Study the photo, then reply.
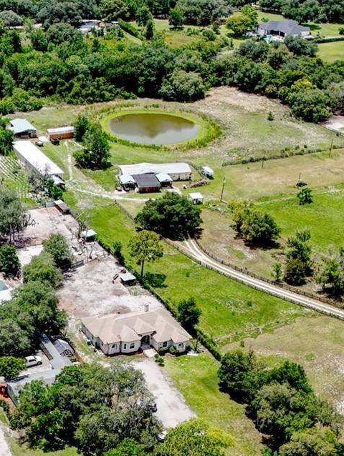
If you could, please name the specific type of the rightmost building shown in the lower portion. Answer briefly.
home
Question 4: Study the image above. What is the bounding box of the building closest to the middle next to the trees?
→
[111,164,193,198]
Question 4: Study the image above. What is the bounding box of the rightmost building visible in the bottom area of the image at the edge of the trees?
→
[83,302,193,357]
